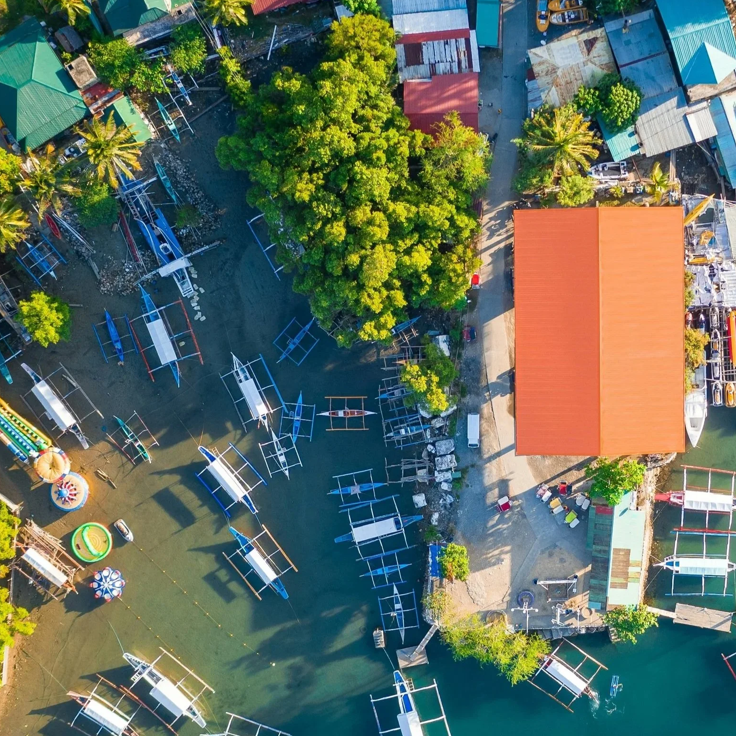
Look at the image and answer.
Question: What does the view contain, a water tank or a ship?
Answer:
ship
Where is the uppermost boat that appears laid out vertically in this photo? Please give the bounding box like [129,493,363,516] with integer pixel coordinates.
[536,0,550,33]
